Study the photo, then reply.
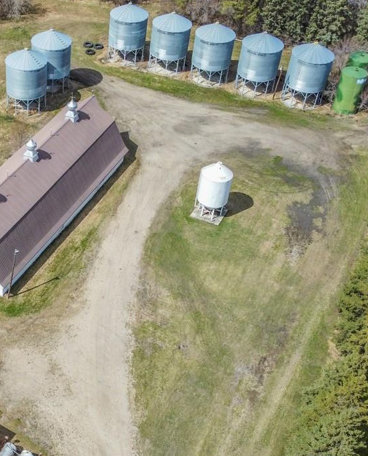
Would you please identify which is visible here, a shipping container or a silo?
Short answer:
silo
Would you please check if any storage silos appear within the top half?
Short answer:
Yes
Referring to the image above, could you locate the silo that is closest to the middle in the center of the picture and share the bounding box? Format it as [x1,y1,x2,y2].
[197,160,237,219]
